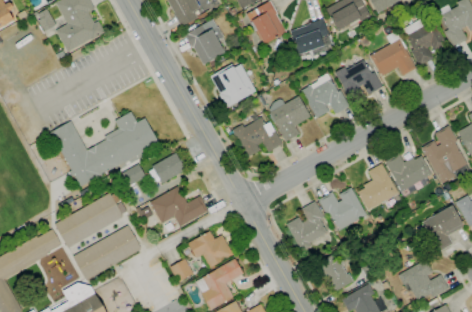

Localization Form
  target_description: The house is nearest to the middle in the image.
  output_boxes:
[234,116,282,160]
